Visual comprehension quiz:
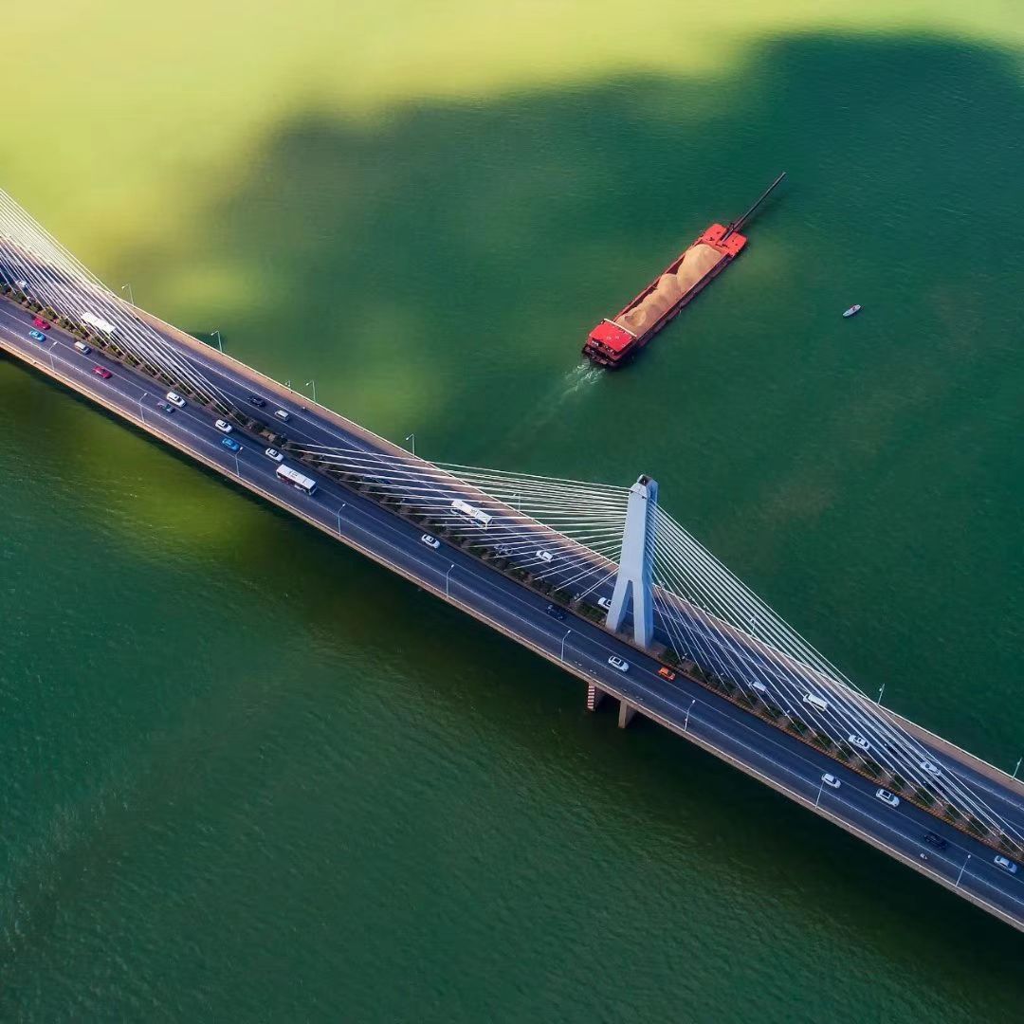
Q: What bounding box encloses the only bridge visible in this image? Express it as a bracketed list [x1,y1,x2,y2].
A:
[0,181,1024,933]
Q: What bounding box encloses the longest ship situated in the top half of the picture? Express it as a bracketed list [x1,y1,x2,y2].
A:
[584,169,786,371]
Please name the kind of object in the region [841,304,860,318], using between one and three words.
boat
